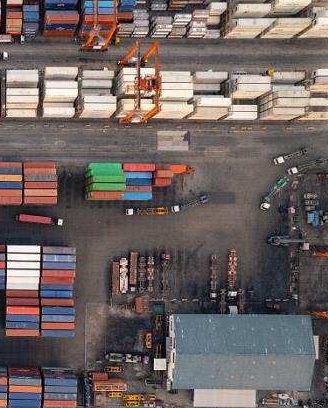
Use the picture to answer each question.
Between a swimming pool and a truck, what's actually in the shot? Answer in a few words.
truck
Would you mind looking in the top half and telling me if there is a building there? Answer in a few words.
No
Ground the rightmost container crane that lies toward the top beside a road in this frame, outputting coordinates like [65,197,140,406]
[120,42,162,124]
